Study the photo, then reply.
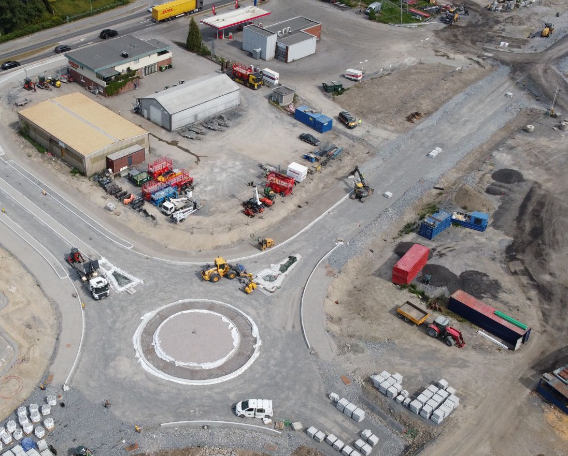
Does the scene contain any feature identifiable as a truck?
Yes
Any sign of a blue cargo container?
Yes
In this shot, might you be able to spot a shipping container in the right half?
Yes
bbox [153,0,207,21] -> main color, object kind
yellow truck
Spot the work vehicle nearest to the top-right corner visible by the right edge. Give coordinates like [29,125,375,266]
[543,24,555,36]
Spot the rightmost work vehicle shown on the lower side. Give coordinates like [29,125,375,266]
[432,320,474,352]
